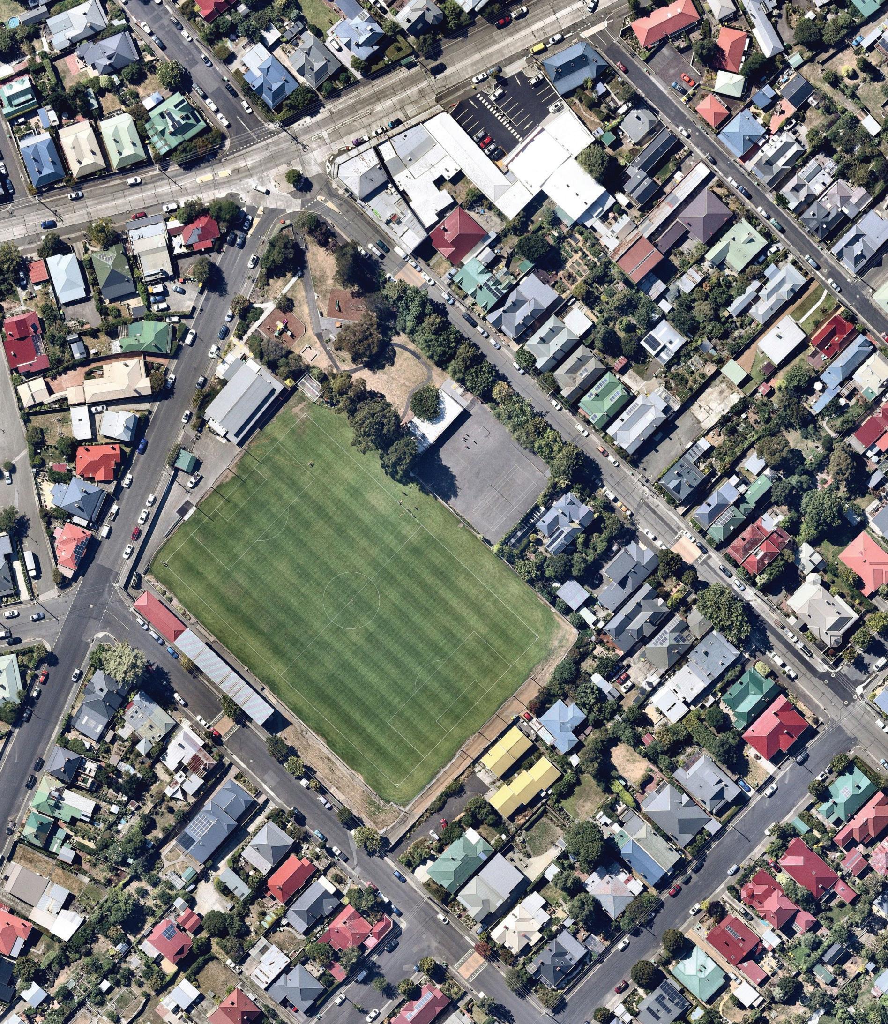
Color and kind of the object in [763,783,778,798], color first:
white car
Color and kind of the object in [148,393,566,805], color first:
green soccer field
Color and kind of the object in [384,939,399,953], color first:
black car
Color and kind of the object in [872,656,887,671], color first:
white vehicle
